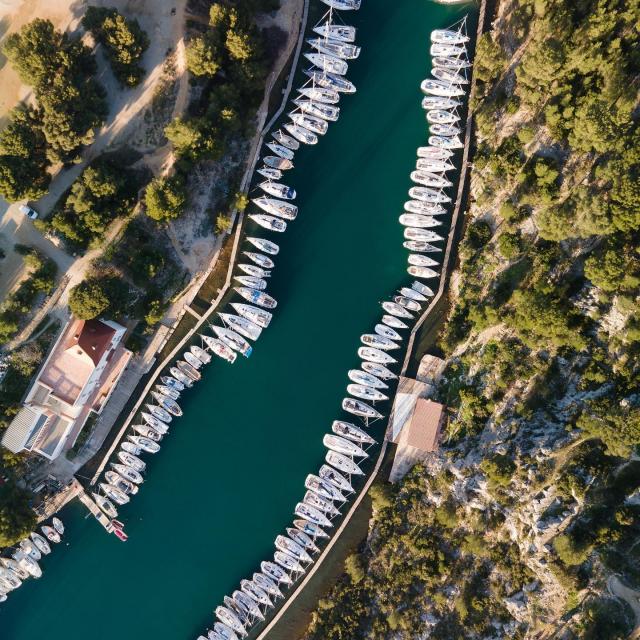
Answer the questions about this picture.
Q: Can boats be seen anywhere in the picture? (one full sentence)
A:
Yes, I can see a boat in this picture.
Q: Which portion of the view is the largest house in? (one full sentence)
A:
The largest house is in the left part of the image.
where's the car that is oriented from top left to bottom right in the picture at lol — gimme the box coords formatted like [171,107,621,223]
[21,205,38,218]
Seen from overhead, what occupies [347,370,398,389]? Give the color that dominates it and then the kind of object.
white boat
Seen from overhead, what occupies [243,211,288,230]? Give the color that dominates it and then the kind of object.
white boat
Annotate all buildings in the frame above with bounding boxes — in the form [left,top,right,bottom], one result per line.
[1,312,134,458]
[407,398,444,451]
